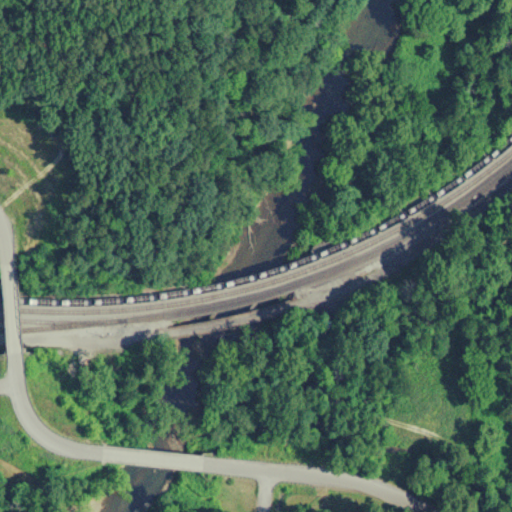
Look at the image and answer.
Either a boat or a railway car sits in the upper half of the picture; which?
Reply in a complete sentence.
Visible in the upper half of the picture is a railway car.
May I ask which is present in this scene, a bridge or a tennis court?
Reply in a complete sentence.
The one in the frame is a bridge.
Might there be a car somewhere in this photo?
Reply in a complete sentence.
No, the scene contains no car.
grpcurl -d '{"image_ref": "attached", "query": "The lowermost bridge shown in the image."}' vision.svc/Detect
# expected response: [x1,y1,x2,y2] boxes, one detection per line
[98,443,214,473]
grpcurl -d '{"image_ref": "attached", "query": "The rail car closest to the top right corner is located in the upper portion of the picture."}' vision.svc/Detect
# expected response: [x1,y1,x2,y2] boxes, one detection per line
[489,136,512,160]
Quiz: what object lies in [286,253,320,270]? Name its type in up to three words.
rail car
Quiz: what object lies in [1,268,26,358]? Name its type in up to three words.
overpass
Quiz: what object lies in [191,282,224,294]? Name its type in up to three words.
rail car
